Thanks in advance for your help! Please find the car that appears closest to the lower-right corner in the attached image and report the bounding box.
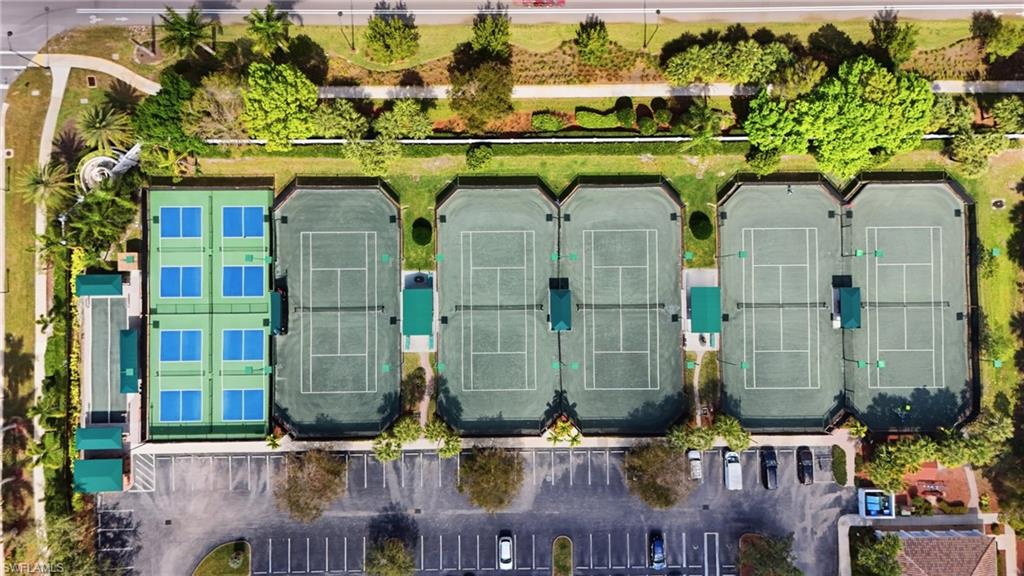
[796,447,814,483]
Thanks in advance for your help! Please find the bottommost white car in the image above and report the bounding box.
[497,537,513,571]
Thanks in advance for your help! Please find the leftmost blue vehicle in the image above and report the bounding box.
[649,535,666,570]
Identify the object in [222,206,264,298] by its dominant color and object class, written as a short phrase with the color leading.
blue sports court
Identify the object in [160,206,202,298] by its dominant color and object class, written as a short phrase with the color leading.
blue sports court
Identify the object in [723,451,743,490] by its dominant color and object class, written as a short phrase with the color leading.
white vehicle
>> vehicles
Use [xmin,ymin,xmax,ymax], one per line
[723,451,743,490]
[649,535,666,570]
[686,449,702,480]
[760,448,778,487]
[796,447,814,483]
[497,537,513,571]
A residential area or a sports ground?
sports ground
